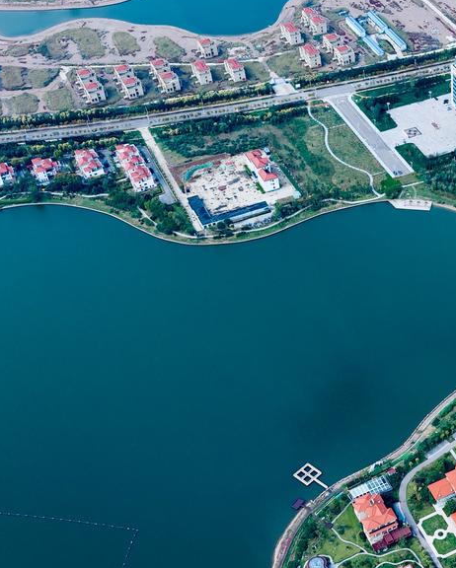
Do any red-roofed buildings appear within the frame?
Yes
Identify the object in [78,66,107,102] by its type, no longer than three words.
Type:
house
